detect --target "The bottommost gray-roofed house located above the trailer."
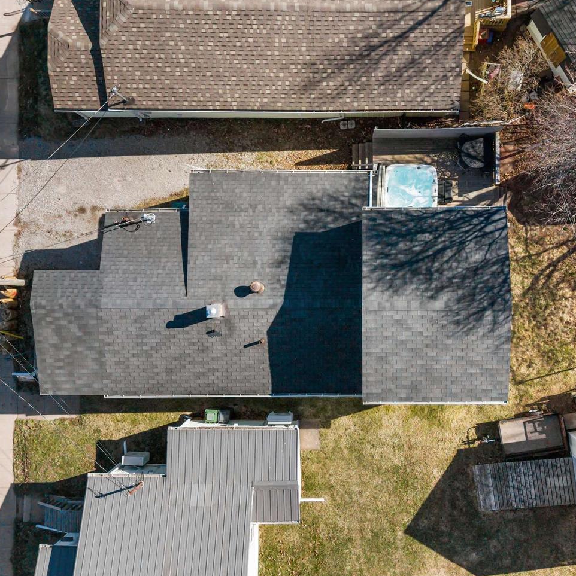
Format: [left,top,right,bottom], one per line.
[13,167,514,408]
